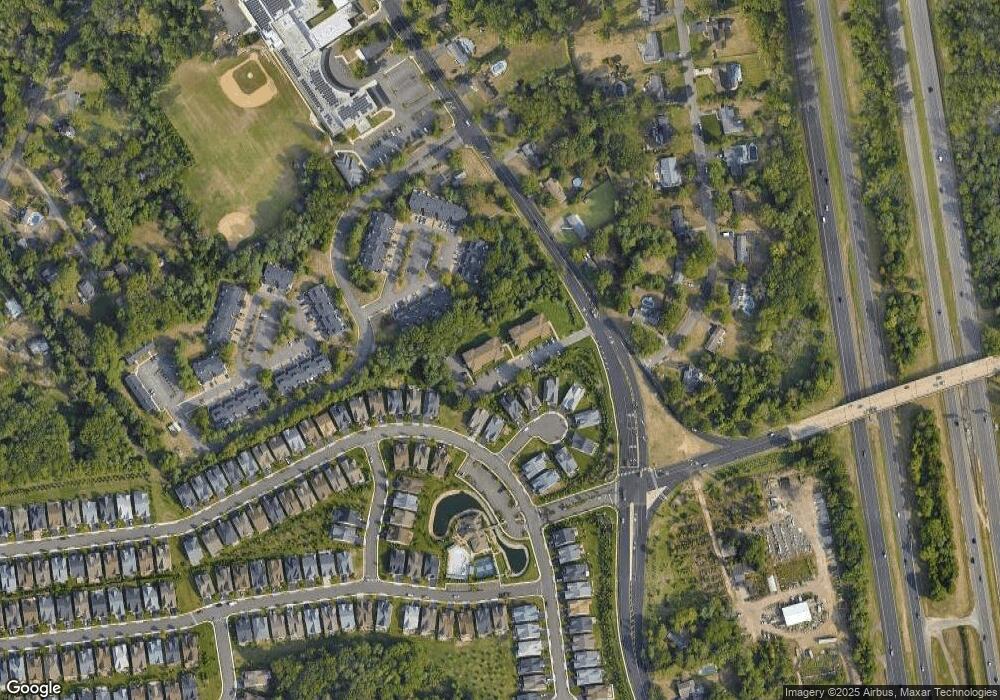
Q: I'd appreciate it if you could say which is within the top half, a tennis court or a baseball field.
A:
baseball field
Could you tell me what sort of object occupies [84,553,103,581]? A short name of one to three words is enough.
house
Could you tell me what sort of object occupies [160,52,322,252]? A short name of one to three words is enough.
baseball field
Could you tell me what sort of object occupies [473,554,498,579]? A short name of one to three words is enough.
tennis court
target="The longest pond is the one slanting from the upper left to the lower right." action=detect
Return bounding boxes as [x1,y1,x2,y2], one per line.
[434,492,528,574]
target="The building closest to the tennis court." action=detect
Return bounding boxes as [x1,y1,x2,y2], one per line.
[454,509,493,556]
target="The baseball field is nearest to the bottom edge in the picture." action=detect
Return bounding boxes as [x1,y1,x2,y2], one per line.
[218,212,255,251]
